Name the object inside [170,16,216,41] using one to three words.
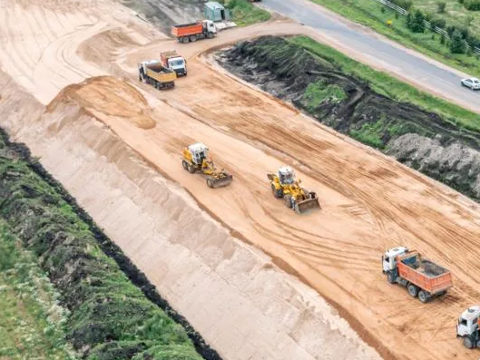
truck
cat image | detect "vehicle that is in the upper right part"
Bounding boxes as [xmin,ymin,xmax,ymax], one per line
[461,75,480,89]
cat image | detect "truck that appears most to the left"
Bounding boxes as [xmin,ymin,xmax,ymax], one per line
[131,56,171,86]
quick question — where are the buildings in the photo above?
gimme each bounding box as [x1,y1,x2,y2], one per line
[205,3,229,24]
